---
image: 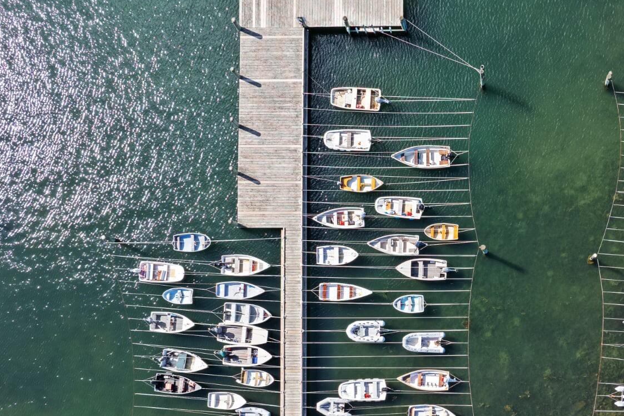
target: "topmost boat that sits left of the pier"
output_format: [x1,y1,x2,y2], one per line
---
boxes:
[174,233,211,252]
